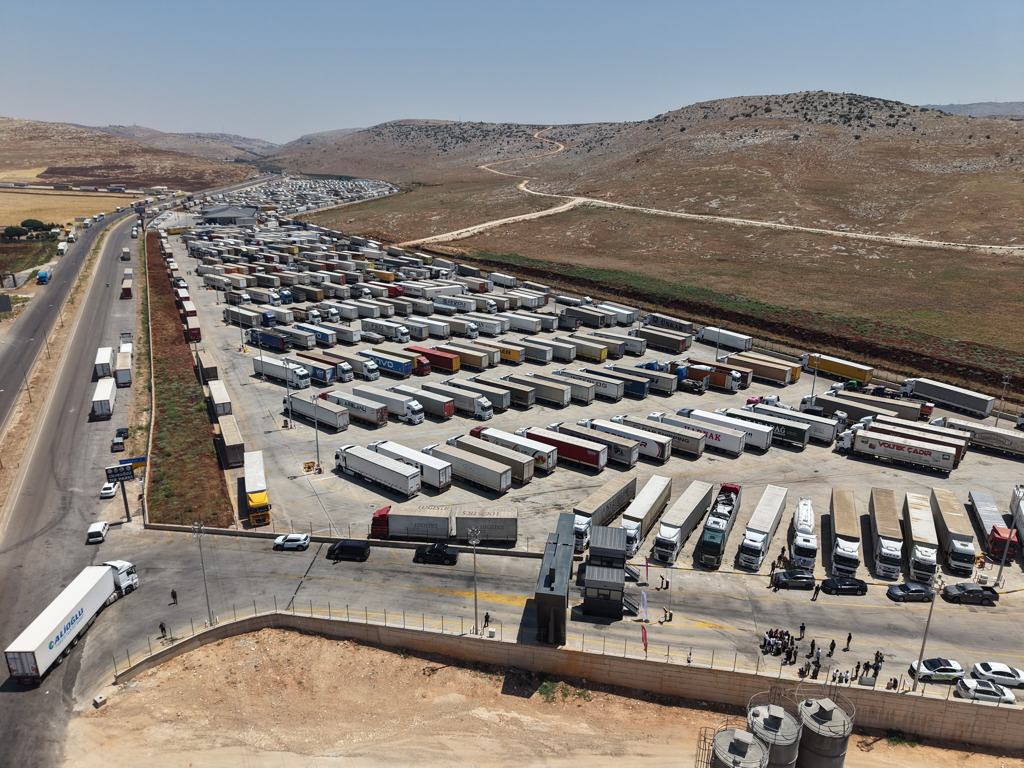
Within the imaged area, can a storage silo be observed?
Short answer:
Yes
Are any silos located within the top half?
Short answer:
No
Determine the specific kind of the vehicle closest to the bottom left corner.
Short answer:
truck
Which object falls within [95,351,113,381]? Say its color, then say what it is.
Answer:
white vehicle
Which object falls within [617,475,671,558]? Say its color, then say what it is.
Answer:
white truck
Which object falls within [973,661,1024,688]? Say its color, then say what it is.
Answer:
white car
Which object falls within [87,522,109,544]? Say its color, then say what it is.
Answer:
white car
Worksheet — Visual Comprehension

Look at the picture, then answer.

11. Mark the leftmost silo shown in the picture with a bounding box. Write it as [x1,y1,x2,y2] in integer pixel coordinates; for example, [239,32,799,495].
[696,717,770,768]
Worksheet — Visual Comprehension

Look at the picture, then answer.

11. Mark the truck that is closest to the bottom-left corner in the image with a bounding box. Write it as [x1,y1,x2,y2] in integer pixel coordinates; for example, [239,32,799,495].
[5,559,145,683]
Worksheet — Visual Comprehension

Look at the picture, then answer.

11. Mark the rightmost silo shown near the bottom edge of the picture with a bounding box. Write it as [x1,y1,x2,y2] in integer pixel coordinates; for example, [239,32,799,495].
[794,668,861,768]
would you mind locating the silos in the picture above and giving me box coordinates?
[744,676,810,768]
[794,668,861,768]
[696,717,770,768]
